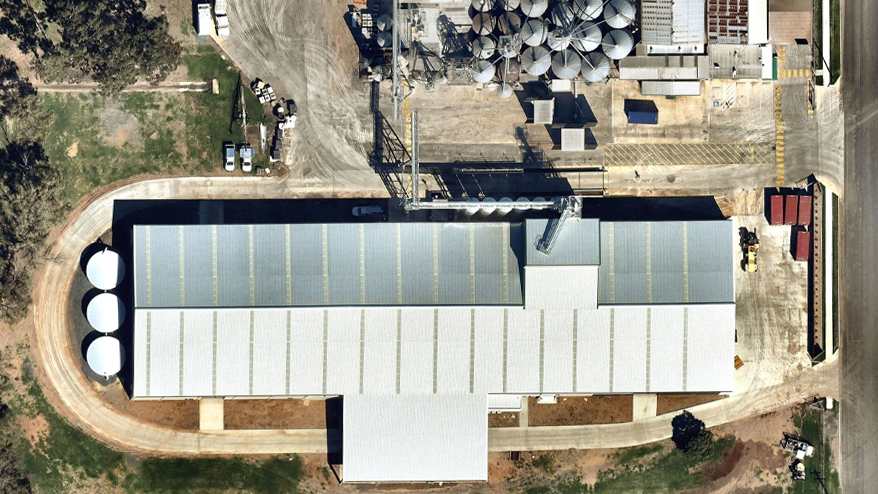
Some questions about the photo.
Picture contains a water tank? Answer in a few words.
Yes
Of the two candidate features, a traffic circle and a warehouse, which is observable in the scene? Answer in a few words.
warehouse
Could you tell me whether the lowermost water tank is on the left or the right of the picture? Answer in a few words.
left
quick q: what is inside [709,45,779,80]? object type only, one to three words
building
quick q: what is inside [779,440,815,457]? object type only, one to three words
vehicle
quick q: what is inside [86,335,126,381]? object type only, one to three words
water tank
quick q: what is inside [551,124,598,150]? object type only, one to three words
shed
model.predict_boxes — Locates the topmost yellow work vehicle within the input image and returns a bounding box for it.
[744,228,760,273]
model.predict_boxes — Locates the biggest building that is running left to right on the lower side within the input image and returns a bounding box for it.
[132,220,736,403]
